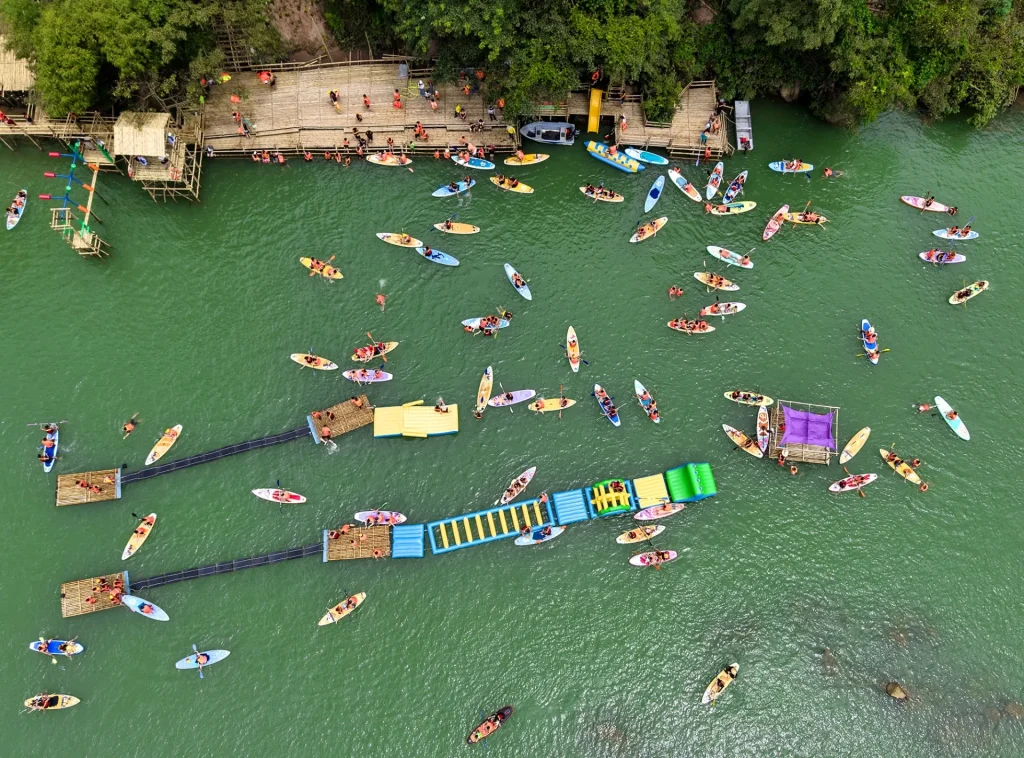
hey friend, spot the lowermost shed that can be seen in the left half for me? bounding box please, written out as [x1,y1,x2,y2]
[109,110,204,202]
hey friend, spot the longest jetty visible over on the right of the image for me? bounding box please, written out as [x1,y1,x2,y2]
[540,79,735,160]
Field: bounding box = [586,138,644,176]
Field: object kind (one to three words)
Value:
boat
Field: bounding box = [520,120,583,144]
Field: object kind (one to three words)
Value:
boat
